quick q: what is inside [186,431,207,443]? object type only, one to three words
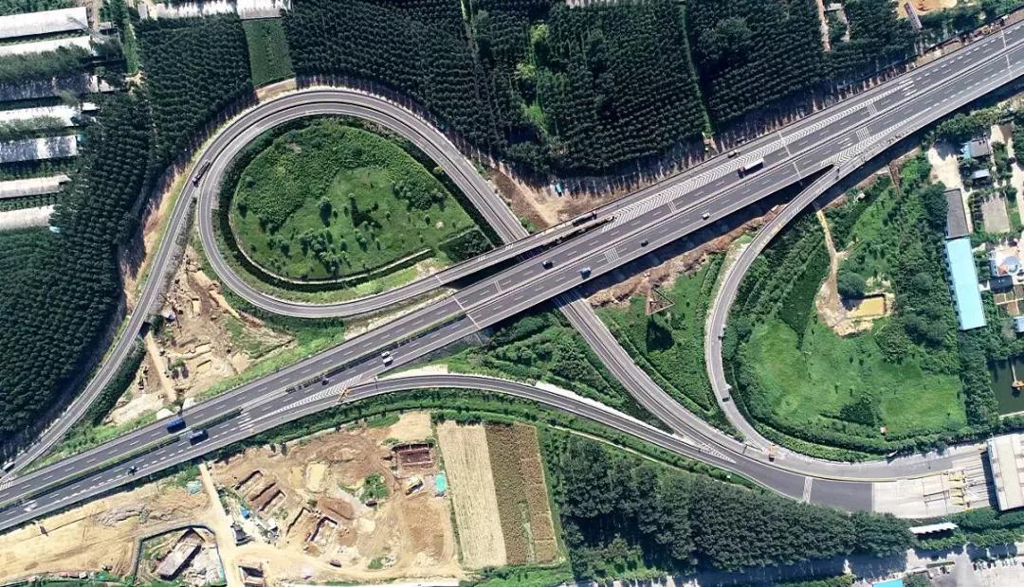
vehicle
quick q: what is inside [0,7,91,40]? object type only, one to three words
greenhouse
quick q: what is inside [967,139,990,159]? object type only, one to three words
house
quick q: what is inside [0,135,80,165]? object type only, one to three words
greenhouse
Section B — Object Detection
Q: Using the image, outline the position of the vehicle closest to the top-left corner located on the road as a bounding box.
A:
[192,161,208,182]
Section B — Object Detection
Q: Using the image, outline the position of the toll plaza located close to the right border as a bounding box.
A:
[949,430,1024,513]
